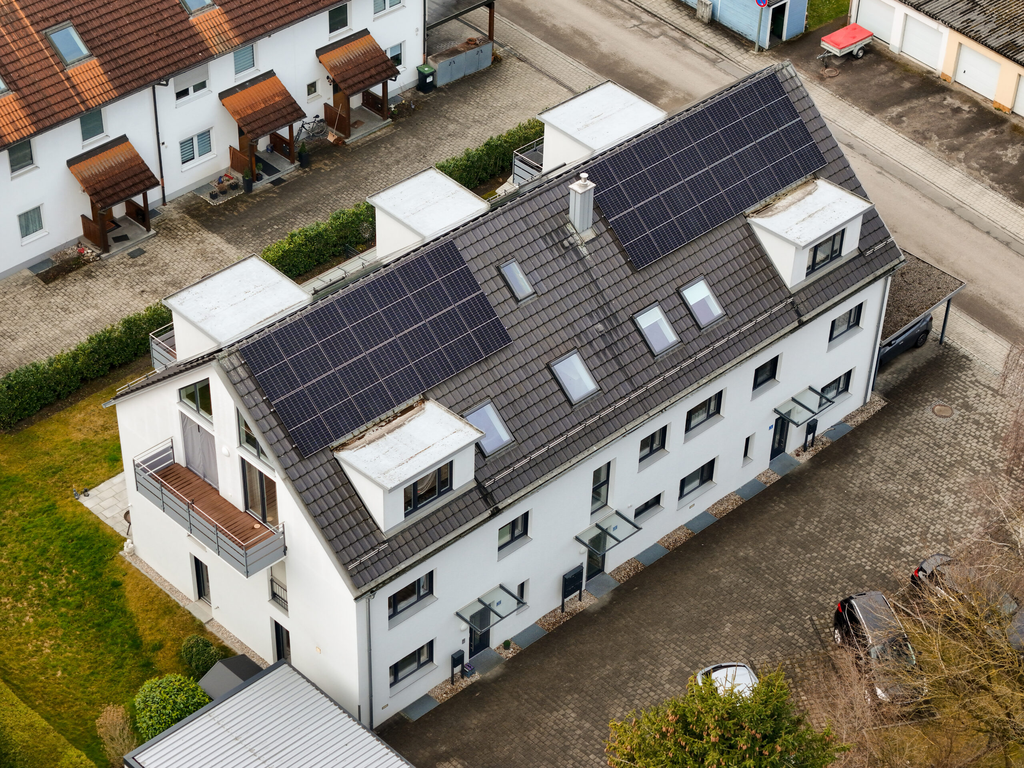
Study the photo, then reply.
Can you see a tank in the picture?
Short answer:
No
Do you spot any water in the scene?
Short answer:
No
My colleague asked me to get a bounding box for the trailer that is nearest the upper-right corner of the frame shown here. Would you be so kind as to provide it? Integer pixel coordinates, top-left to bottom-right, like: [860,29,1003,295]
[813,23,874,68]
